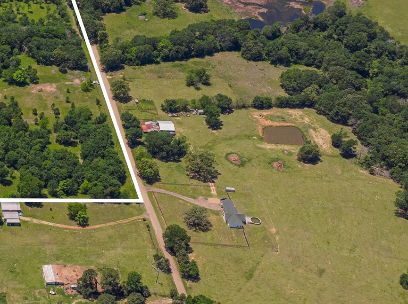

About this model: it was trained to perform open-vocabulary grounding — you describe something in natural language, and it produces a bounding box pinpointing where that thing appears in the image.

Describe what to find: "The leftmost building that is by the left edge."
[0,197,23,228]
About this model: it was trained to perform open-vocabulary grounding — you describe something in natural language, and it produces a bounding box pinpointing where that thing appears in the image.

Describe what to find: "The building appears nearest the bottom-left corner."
[41,265,64,288]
